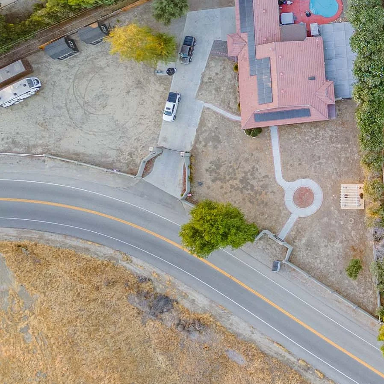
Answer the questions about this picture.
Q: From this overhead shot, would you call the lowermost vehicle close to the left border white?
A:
Yes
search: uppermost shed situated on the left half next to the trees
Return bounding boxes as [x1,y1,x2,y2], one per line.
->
[78,20,110,45]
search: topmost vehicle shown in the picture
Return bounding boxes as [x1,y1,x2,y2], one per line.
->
[179,35,196,66]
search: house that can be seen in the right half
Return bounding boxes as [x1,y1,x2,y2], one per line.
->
[226,0,337,128]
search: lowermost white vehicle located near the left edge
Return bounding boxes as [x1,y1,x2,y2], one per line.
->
[0,78,49,112]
